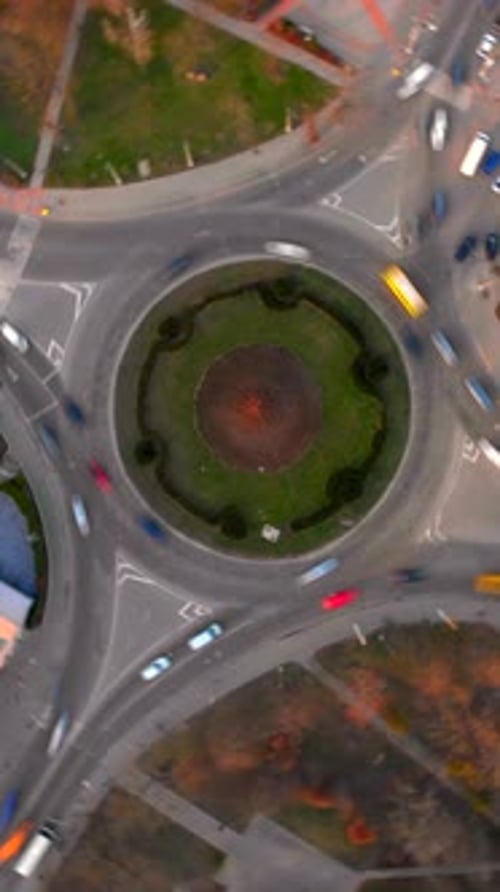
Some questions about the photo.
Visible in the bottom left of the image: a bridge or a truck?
truck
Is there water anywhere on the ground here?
No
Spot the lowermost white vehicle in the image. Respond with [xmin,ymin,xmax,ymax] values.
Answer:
[11,826,53,883]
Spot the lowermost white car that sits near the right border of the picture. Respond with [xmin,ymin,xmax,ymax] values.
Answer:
[477,435,500,469]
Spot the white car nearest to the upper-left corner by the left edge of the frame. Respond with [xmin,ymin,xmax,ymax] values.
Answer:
[0,321,28,352]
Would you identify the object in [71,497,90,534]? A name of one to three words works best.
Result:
car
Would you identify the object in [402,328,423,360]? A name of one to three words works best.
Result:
car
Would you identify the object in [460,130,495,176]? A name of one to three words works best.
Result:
truck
